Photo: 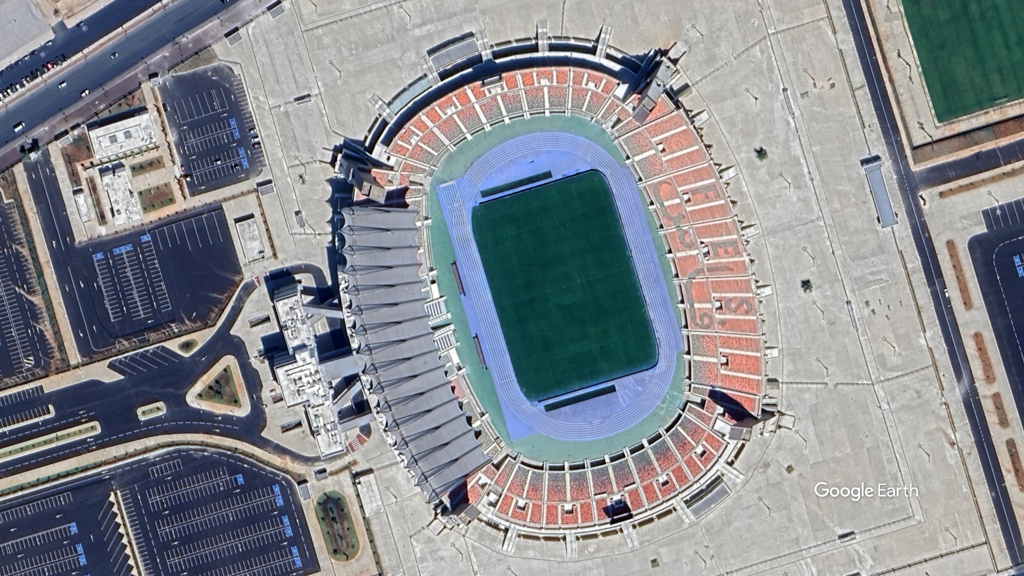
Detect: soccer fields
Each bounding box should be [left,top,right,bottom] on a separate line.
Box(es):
[471,172,658,402]
[869,0,1024,147]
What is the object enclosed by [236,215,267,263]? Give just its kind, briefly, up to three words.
building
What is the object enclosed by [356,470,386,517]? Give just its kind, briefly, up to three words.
building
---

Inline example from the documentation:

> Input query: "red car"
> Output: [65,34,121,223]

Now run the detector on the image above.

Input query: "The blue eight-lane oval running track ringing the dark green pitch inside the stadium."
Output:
[430,115,683,463]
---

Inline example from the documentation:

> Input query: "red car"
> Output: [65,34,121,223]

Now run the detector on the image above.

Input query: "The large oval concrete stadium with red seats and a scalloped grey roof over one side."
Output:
[320,19,795,558]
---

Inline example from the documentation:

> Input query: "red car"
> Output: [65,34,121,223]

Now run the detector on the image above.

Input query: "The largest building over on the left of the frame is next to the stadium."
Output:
[257,283,349,459]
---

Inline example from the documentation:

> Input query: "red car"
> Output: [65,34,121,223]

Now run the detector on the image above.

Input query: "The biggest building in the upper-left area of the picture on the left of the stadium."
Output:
[88,109,158,161]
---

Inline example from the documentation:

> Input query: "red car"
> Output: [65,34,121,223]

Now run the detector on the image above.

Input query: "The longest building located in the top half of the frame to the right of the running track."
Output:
[863,159,899,229]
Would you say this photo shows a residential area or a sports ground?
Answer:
sports ground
